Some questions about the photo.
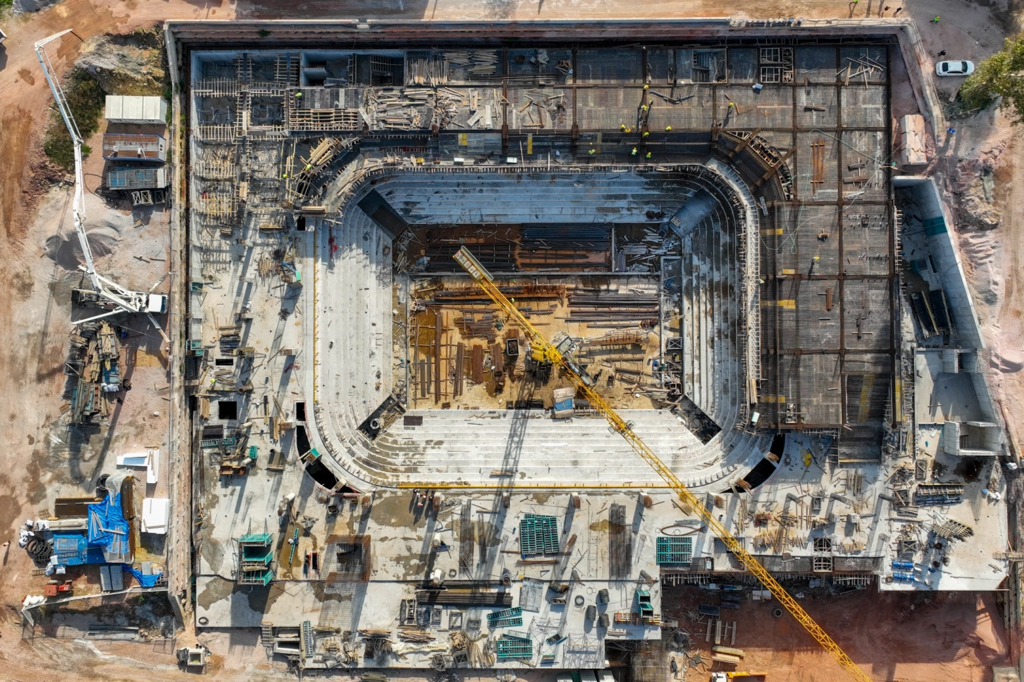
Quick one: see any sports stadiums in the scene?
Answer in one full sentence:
Yes, a sports stadium appears in the view.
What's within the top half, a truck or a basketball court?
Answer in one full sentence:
It is a truck that can be seen within the top half.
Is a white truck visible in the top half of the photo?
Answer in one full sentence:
Yes, the scene does show a white truck in the top half of the photo.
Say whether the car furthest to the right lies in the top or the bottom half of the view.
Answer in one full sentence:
It is in the top half that the car furthest to the right appears.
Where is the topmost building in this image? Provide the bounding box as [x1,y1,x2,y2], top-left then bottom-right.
[105,96,166,123]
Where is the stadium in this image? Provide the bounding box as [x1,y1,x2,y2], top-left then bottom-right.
[304,144,769,496]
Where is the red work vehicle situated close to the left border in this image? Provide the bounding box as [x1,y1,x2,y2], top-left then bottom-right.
[44,580,73,599]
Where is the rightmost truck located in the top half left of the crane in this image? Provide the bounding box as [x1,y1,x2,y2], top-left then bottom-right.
[32,25,177,344]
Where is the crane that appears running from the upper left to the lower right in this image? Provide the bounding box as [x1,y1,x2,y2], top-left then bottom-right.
[441,236,877,682]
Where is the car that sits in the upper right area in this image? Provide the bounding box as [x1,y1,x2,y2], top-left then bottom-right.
[935,57,975,77]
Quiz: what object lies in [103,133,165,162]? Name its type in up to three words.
building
